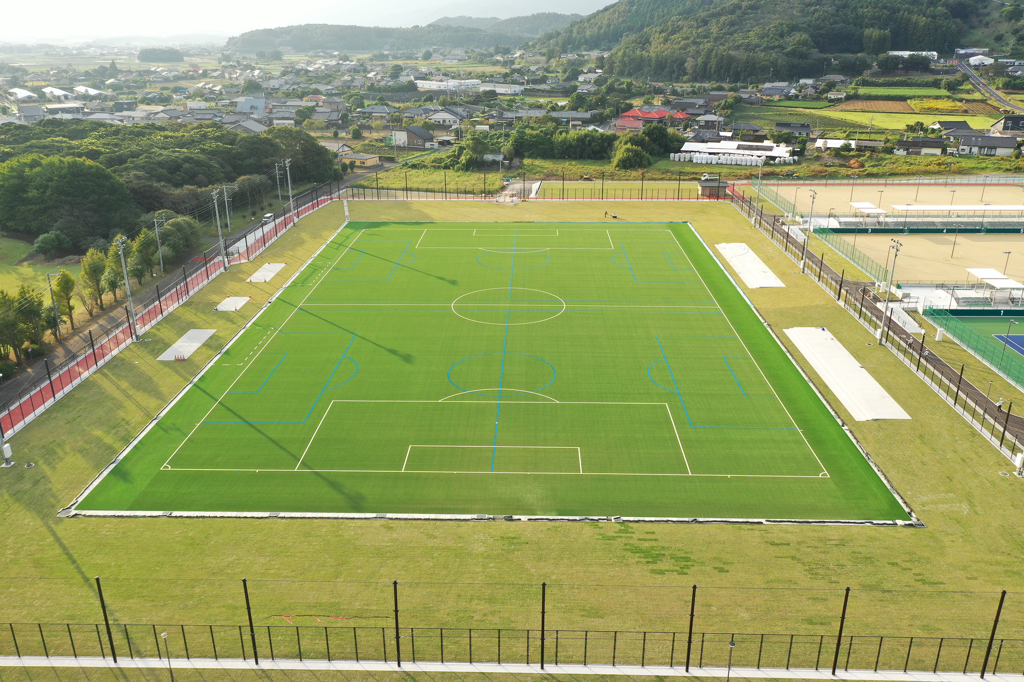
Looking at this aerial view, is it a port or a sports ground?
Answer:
sports ground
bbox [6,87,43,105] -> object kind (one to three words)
barn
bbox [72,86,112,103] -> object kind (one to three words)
barn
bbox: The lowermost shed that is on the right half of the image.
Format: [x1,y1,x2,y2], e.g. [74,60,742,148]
[699,180,730,196]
